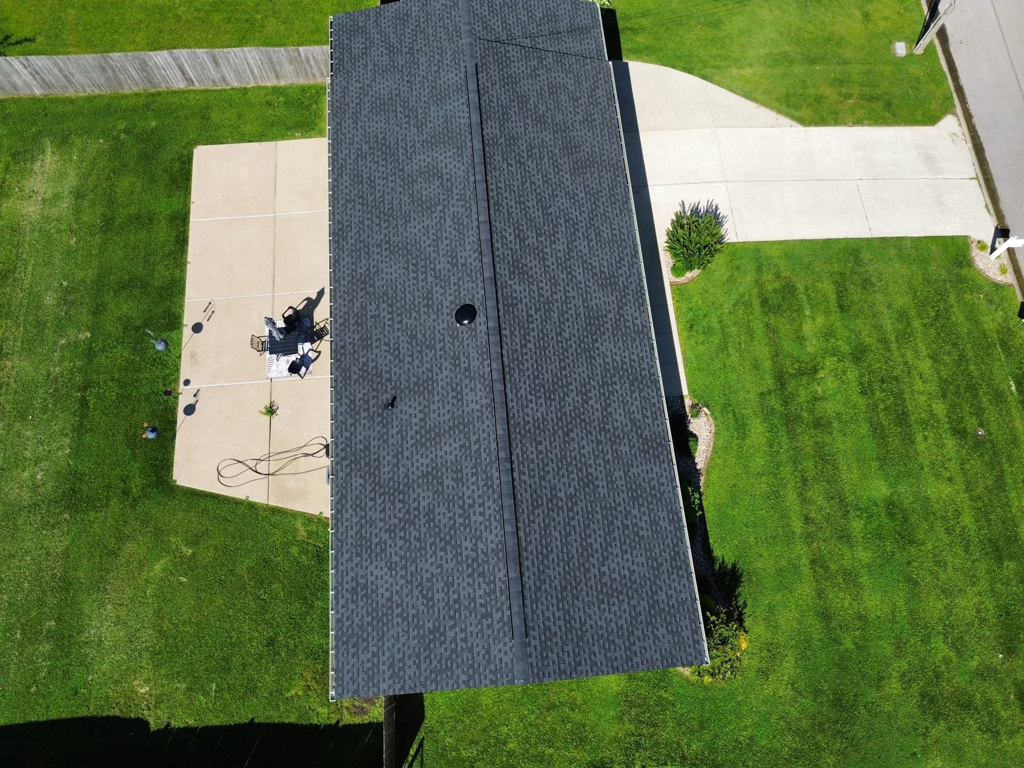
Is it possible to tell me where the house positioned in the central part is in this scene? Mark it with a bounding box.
[326,0,711,701]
